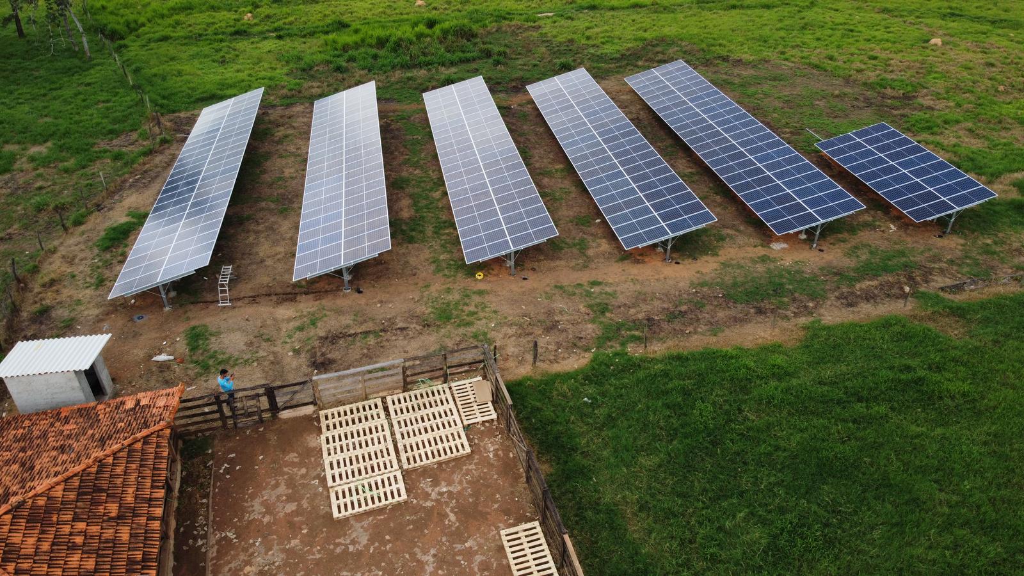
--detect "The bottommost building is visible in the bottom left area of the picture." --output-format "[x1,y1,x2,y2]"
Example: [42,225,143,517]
[0,385,187,576]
